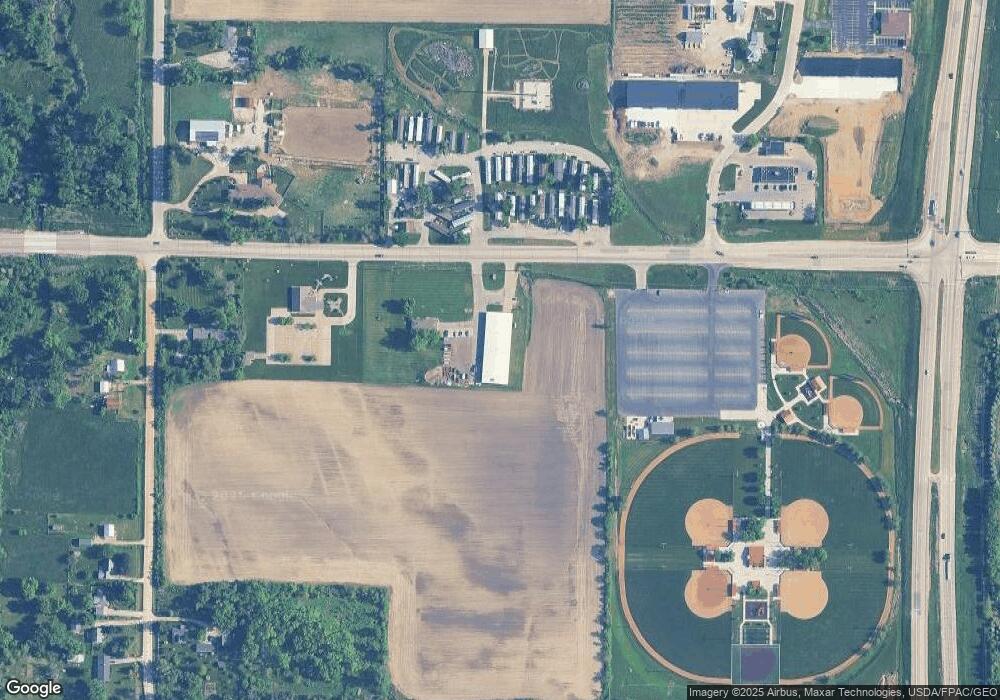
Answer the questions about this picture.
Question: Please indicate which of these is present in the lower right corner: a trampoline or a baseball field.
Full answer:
You can see a baseball field in the lower right corner.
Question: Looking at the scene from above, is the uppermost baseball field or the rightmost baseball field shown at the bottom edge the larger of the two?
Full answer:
The rightmost baseball field shown at the bottom edge takes up more space than the uppermost baseball field does.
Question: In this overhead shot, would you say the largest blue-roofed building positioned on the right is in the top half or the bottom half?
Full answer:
You can find the largest blue-roofed building positioned on the right in the top half.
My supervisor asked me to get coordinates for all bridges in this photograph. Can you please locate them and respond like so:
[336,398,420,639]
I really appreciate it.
[22,230,58,255]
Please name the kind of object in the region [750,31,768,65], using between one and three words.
building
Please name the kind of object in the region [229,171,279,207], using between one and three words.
house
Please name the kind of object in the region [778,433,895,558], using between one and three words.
baseball field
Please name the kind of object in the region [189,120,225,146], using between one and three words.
barn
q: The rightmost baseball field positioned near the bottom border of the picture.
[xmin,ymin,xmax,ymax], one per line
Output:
[781,557,895,683]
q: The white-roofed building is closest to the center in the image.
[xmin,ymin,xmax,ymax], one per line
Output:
[480,311,513,385]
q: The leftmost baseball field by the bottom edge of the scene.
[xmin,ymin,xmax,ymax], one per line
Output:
[618,557,733,683]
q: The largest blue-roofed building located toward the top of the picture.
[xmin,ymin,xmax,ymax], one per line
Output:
[627,80,739,109]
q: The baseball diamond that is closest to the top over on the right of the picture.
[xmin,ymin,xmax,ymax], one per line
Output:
[774,314,831,370]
